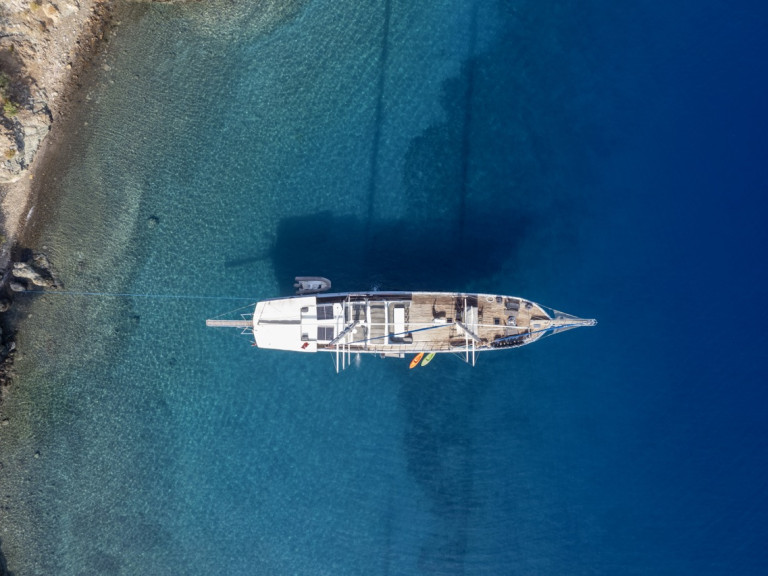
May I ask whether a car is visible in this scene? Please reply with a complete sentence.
No, the picture doesn't show any car.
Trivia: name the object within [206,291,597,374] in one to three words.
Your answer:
boat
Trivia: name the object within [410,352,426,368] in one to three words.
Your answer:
boat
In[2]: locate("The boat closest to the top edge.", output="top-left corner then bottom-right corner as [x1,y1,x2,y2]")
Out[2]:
[292,277,344,293]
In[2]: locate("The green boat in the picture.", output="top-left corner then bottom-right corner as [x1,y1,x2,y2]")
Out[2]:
[421,352,437,366]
